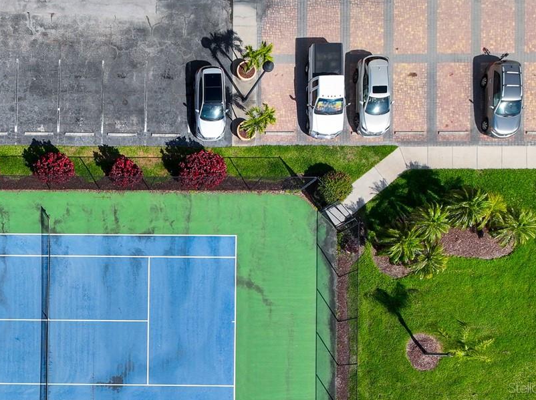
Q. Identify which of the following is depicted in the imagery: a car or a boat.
car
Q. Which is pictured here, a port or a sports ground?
sports ground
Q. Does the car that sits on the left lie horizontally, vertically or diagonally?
vertically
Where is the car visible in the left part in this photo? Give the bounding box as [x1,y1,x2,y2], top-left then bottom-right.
[192,66,230,142]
